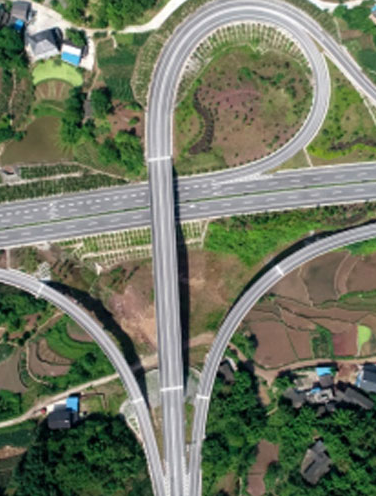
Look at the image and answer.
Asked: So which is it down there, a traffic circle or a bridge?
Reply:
bridge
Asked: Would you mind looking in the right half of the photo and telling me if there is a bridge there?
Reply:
Yes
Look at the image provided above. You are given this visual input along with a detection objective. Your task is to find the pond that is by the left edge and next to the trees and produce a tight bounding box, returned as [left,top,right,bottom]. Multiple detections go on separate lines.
[1,115,71,165]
